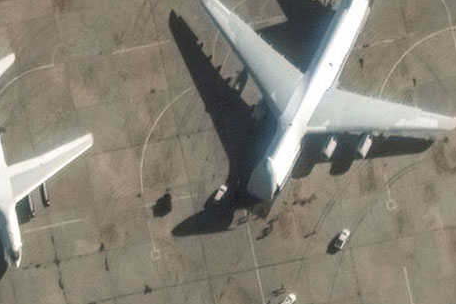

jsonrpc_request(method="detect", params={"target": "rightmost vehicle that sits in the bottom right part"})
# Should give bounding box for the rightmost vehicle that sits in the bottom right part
[334,230,350,251]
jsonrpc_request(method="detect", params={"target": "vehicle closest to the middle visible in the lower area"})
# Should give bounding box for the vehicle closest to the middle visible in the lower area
[213,184,228,204]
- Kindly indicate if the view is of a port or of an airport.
airport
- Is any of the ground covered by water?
No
